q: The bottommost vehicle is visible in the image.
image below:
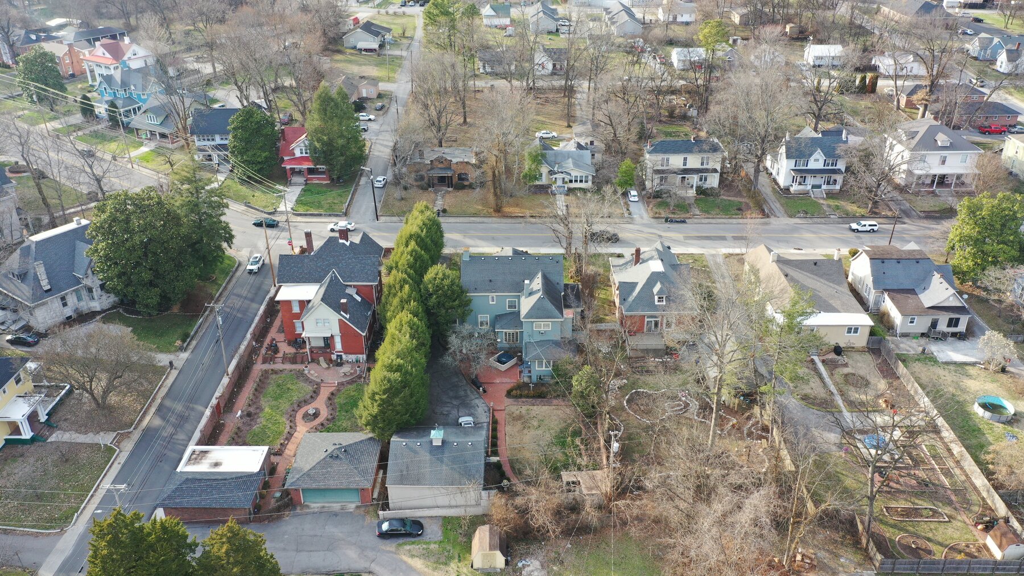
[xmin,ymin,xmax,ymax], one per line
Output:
[372,518,423,540]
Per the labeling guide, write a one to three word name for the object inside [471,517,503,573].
shed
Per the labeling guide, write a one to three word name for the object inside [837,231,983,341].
house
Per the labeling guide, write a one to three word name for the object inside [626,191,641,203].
vehicle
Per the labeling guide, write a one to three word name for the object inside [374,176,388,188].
vehicle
